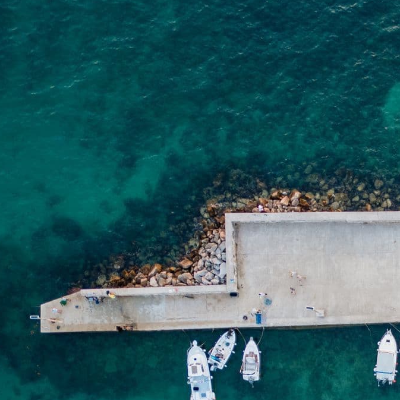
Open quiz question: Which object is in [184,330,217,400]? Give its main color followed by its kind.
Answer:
white boat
